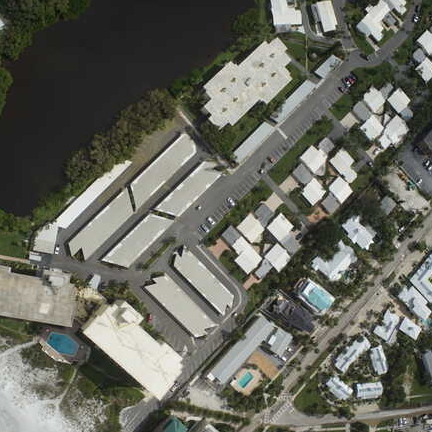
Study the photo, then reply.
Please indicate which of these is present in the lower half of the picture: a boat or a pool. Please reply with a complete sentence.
What appears in the lower half of the picture is a pool.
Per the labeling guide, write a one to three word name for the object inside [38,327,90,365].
swimming pool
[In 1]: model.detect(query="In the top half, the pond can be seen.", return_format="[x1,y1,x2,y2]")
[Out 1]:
[0,0,253,216]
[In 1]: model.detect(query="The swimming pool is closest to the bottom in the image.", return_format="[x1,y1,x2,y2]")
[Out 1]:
[231,370,263,396]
